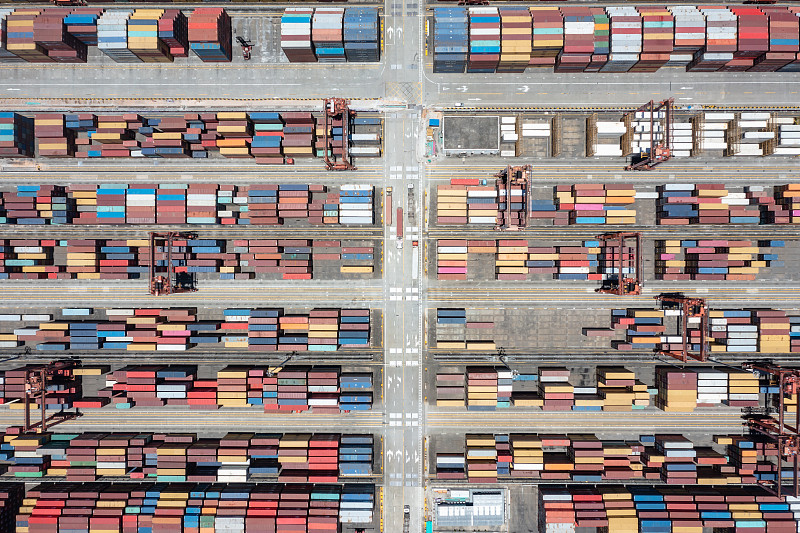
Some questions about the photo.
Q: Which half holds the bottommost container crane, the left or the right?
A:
right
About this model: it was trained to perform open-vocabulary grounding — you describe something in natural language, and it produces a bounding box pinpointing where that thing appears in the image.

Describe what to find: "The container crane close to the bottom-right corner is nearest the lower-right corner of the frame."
[738,421,800,503]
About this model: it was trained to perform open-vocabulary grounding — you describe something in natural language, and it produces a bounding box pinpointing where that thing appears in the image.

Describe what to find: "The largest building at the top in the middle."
[420,116,511,155]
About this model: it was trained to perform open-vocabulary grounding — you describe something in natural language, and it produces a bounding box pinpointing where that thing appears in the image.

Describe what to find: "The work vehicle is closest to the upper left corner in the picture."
[236,34,251,61]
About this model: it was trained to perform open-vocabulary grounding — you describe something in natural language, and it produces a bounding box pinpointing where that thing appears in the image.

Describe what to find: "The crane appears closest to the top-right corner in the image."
[622,95,676,169]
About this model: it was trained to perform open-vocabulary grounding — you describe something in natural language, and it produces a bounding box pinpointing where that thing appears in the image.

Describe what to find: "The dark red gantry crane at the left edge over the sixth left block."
[21,360,84,435]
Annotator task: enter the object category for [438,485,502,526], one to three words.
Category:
building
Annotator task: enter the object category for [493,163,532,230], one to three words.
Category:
container crane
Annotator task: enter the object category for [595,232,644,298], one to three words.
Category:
container crane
